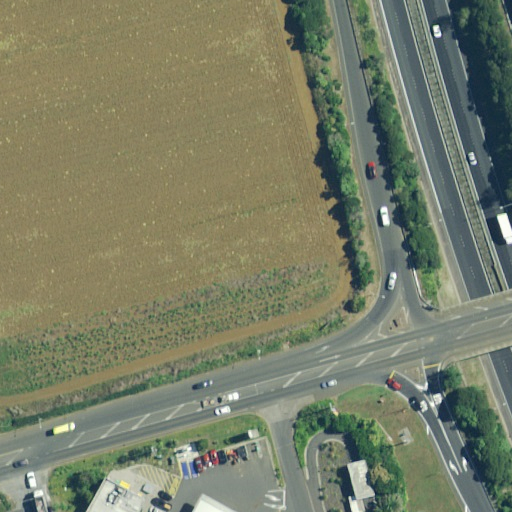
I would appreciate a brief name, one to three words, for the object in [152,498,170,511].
vehicle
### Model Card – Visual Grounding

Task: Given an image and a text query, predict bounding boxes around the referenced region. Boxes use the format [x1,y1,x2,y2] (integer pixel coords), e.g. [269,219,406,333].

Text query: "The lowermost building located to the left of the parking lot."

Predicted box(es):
[86,478,144,512]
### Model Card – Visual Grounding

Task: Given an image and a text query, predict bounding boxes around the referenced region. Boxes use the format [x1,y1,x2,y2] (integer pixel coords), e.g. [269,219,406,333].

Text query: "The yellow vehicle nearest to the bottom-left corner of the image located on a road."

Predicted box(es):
[52,421,76,435]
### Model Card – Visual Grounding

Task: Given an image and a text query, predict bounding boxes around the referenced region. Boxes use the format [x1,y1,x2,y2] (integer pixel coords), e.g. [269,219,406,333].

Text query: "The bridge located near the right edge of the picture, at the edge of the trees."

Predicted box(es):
[438,290,512,364]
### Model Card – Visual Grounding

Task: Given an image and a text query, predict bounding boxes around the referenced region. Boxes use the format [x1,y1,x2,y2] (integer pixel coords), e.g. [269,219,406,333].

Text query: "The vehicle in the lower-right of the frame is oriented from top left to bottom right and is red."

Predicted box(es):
[386,378,402,391]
